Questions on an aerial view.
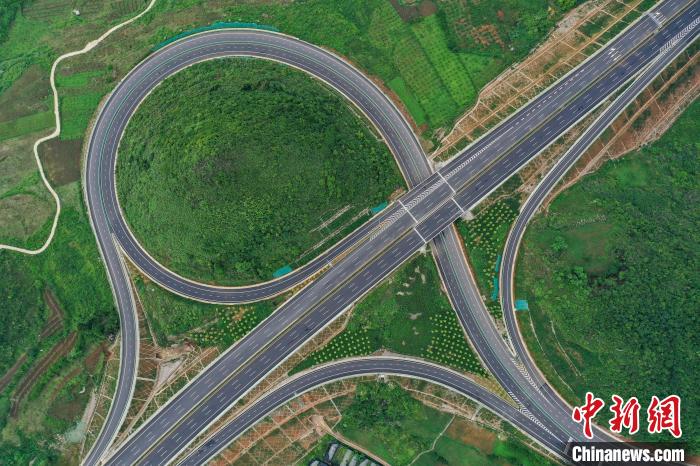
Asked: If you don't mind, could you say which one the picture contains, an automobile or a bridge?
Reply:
bridge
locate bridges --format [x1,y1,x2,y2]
[395,173,467,242]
